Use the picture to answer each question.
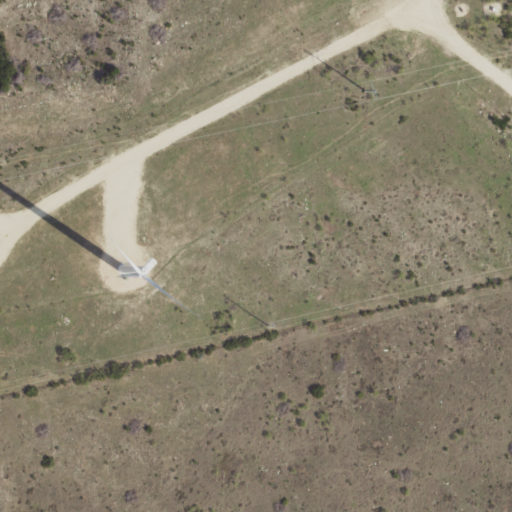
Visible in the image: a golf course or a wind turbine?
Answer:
wind turbine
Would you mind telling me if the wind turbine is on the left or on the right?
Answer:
left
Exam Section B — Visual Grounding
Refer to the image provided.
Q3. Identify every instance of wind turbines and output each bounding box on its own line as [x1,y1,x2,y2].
[110,240,198,314]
